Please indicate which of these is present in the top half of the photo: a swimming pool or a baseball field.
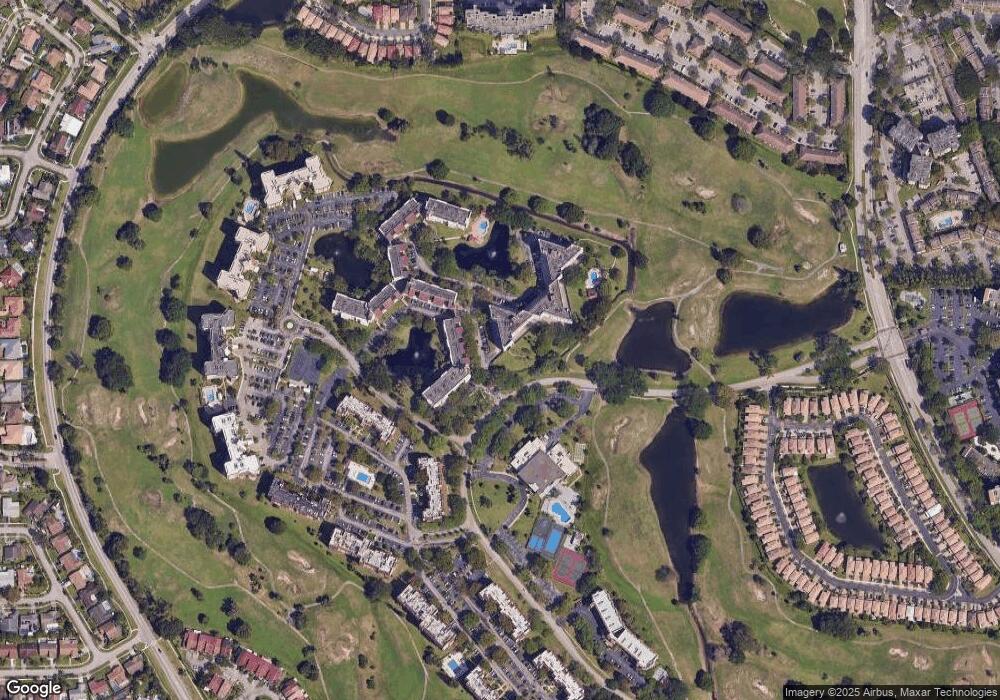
swimming pool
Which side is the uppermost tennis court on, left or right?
right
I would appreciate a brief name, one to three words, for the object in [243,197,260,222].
swimming pool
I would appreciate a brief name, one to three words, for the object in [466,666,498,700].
building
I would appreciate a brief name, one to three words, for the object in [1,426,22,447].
house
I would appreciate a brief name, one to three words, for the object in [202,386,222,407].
swimming pool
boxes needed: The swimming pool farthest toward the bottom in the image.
[442,652,469,679]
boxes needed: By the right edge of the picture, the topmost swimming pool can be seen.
[928,210,963,228]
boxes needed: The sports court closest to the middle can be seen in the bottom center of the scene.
[526,516,562,558]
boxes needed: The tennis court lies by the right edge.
[949,399,987,440]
